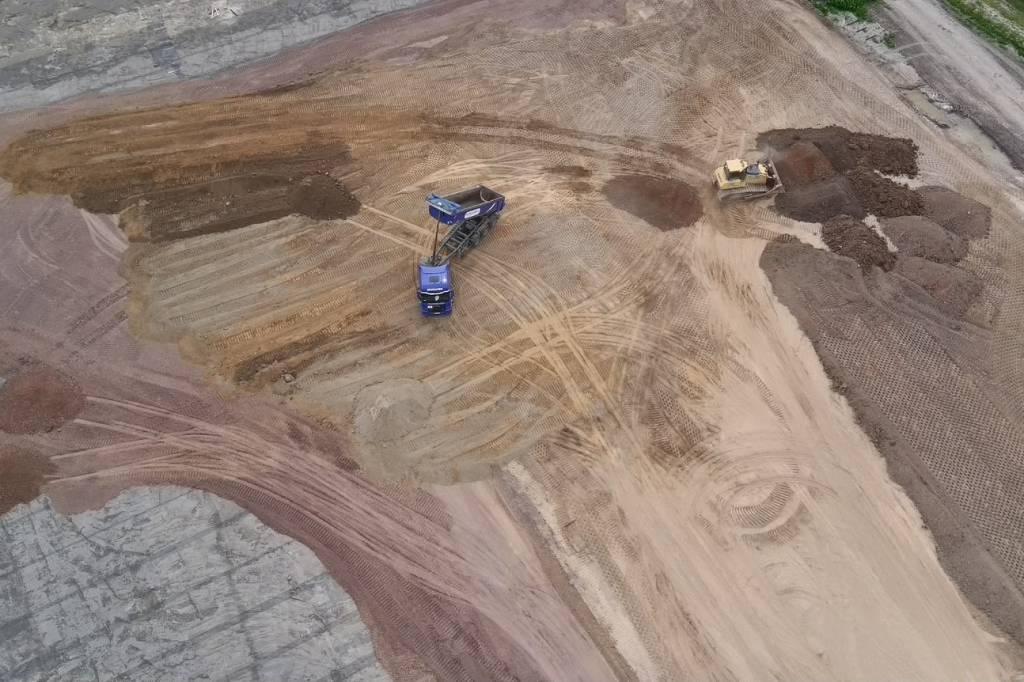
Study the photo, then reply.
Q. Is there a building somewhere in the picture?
No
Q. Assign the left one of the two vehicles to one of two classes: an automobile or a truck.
truck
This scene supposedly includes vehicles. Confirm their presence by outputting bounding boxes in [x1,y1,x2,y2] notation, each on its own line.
[706,153,784,200]
[415,182,505,312]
